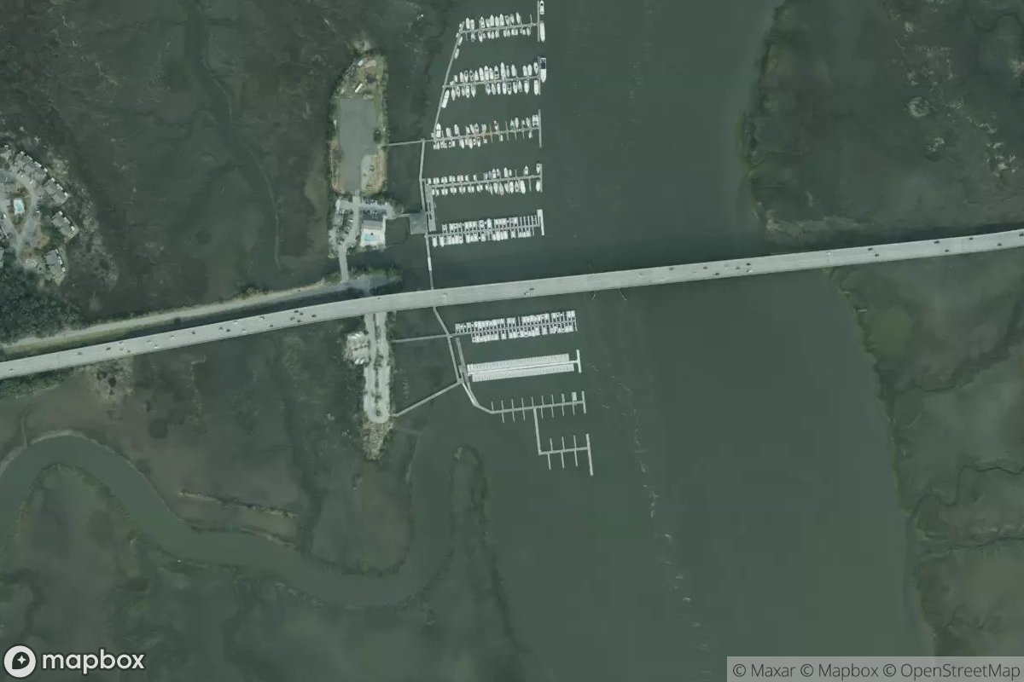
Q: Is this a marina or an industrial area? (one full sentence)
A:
This looks like a marina.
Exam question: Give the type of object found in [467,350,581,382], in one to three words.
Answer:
pier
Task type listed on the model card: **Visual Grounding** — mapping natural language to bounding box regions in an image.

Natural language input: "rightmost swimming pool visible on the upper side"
[361,229,383,246]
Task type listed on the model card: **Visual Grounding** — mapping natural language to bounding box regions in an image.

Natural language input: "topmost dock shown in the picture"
[461,0,540,41]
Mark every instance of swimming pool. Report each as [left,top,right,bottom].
[361,229,383,246]
[14,199,25,215]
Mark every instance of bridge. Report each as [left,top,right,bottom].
[0,229,1024,379]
